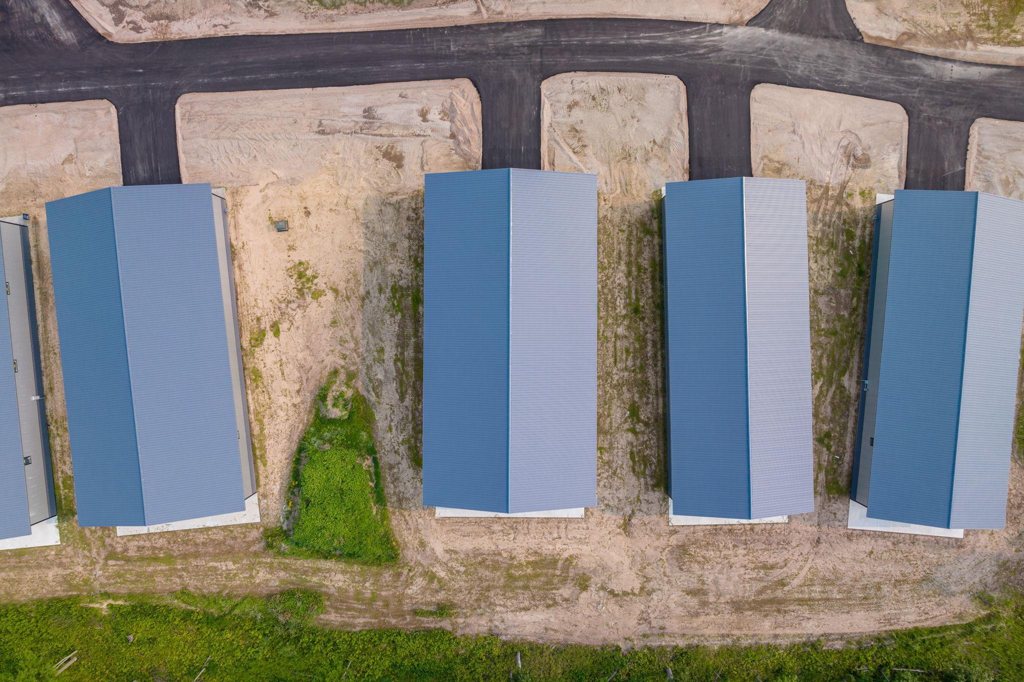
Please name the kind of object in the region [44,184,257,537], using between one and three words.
building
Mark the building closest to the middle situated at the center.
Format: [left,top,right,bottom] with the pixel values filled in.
[422,167,598,518]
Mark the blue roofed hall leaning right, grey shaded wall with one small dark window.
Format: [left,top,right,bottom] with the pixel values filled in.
[849,189,1024,539]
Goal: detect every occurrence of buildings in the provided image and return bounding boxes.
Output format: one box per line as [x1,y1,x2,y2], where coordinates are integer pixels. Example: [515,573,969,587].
[661,176,814,526]
[44,184,257,537]
[0,208,58,550]
[849,189,1024,539]
[422,167,598,518]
